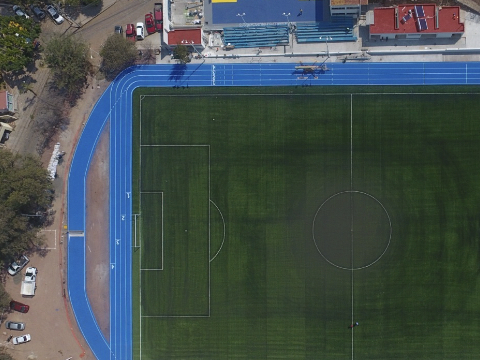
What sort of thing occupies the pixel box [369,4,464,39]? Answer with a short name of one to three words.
building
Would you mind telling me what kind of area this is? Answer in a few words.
sports ground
